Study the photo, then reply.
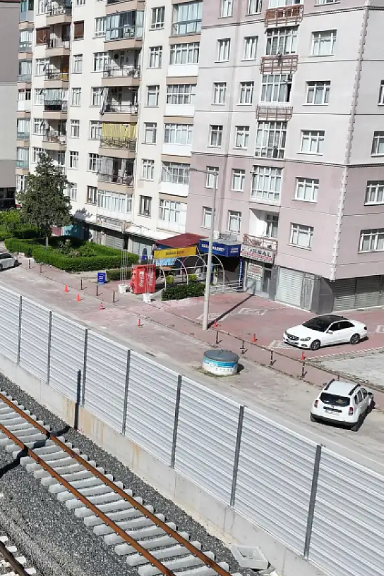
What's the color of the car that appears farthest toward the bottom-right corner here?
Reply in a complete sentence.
From above, the car that appears farthest toward the bottom-right corner appears white.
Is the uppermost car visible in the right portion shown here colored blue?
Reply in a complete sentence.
No, the uppermost car visible in the right portion is white.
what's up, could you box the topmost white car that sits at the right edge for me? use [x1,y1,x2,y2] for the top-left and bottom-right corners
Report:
[280,312,369,348]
